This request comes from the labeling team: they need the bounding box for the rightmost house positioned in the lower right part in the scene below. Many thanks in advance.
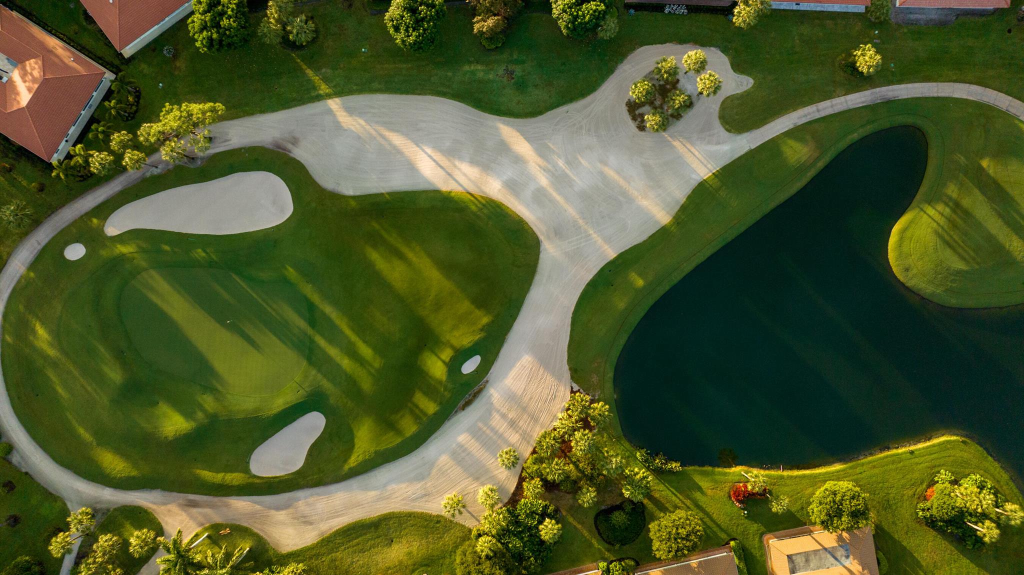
[765,522,879,575]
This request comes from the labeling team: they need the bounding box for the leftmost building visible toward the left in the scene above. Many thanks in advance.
[0,7,112,162]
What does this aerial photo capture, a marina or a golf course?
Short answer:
golf course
